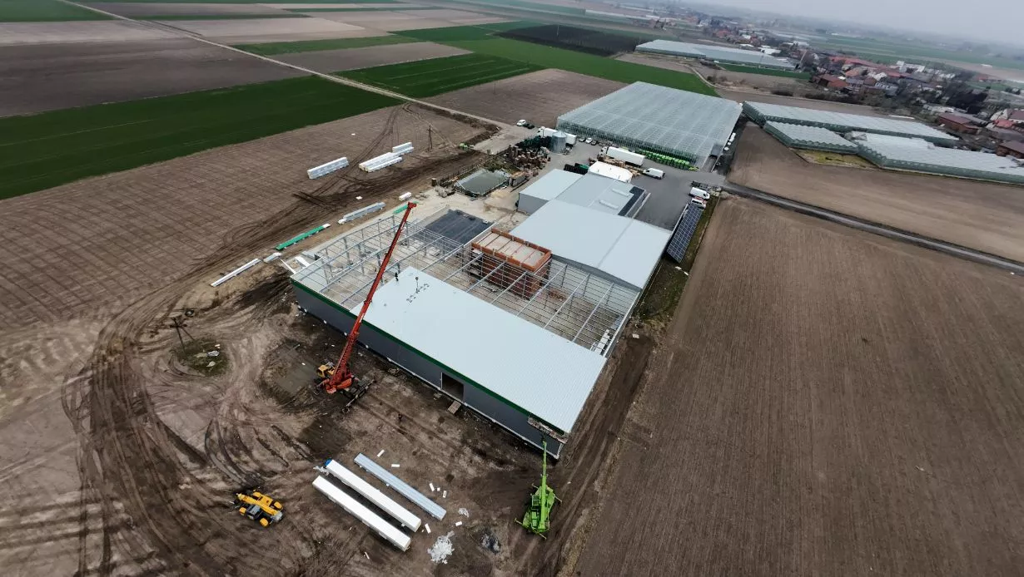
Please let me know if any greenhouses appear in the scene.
Yes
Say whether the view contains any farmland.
Yes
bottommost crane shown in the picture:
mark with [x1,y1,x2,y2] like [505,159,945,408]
[511,437,566,544]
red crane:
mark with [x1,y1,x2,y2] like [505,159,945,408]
[312,199,421,415]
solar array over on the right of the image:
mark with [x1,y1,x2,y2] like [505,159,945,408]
[663,201,705,265]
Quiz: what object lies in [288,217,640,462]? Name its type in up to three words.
building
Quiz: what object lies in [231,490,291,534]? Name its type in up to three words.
work vehicle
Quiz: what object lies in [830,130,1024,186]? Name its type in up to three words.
greenhouse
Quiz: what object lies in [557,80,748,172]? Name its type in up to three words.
greenhouse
